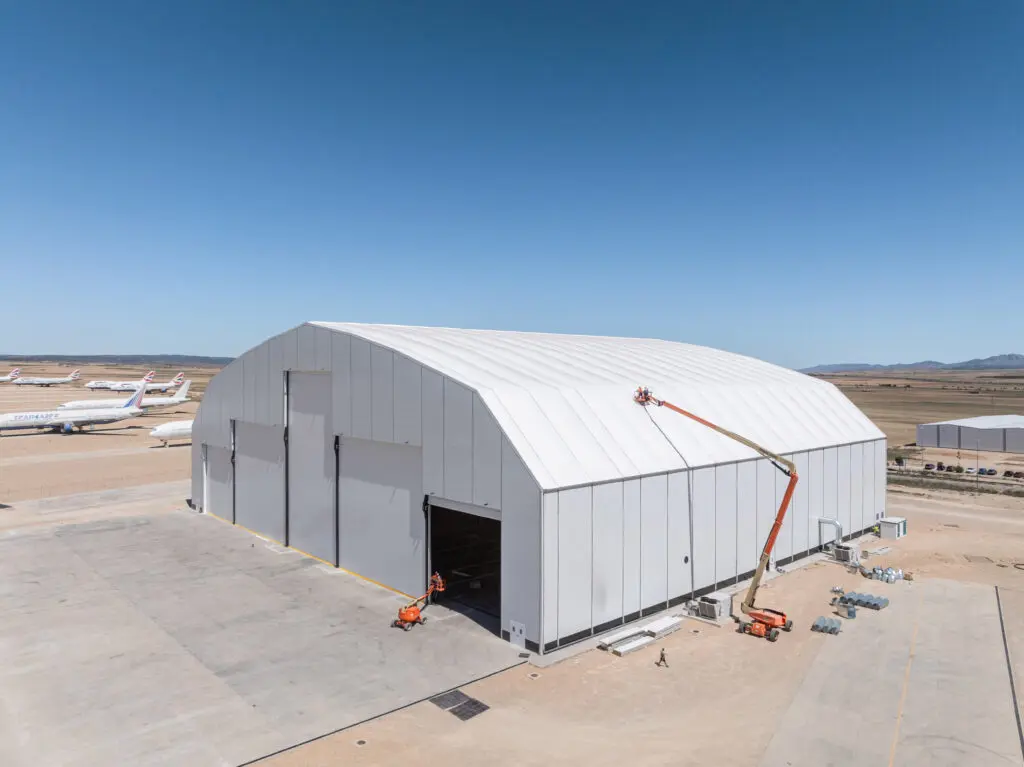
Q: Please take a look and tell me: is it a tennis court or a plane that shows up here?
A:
plane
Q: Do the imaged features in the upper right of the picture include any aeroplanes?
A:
No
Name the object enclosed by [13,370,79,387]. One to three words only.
airplane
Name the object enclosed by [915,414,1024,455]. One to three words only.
hangar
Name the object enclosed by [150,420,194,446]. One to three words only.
airplane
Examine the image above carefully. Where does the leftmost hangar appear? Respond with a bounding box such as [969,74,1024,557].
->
[191,320,887,653]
